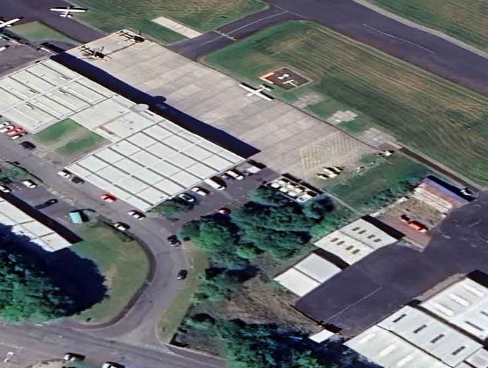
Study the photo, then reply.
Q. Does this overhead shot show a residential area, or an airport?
airport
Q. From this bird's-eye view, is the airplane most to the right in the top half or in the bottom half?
top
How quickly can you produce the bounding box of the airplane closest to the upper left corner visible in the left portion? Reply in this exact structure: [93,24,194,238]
[0,14,19,29]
